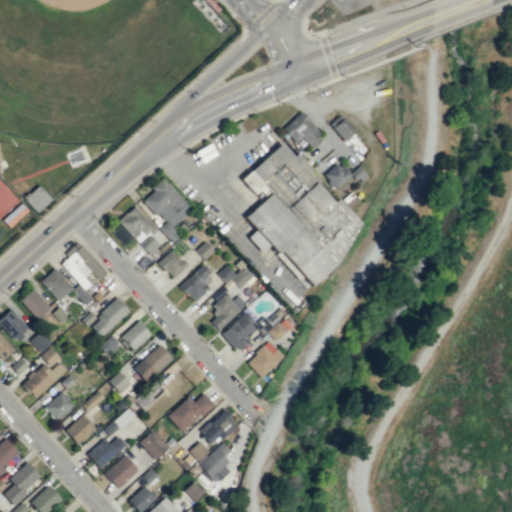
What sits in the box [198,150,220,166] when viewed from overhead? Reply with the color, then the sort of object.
white vehicle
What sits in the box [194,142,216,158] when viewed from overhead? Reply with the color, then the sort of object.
white vehicle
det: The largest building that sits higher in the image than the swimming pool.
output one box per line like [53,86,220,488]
[244,146,364,288]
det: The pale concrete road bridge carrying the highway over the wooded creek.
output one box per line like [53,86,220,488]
[434,0,496,38]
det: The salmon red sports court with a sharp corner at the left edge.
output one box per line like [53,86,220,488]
[0,180,20,220]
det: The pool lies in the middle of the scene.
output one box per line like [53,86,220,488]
[245,292,280,320]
